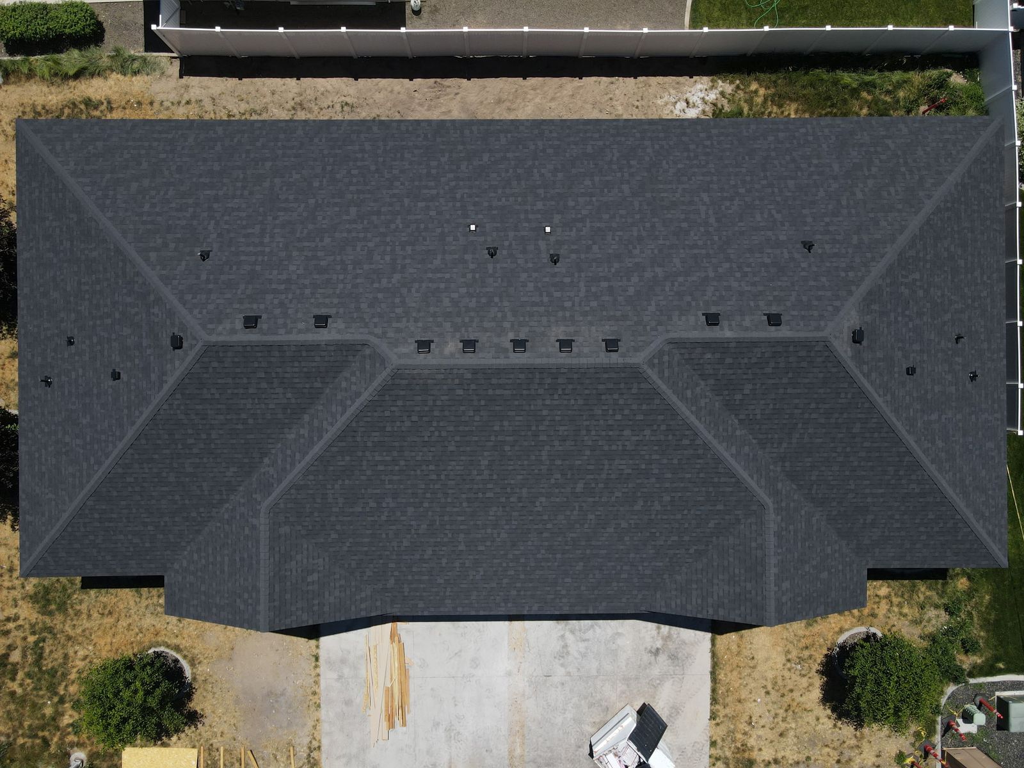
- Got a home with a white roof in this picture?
No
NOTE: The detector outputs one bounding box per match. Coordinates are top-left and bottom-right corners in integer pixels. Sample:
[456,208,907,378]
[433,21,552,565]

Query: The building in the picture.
[13,117,1010,633]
